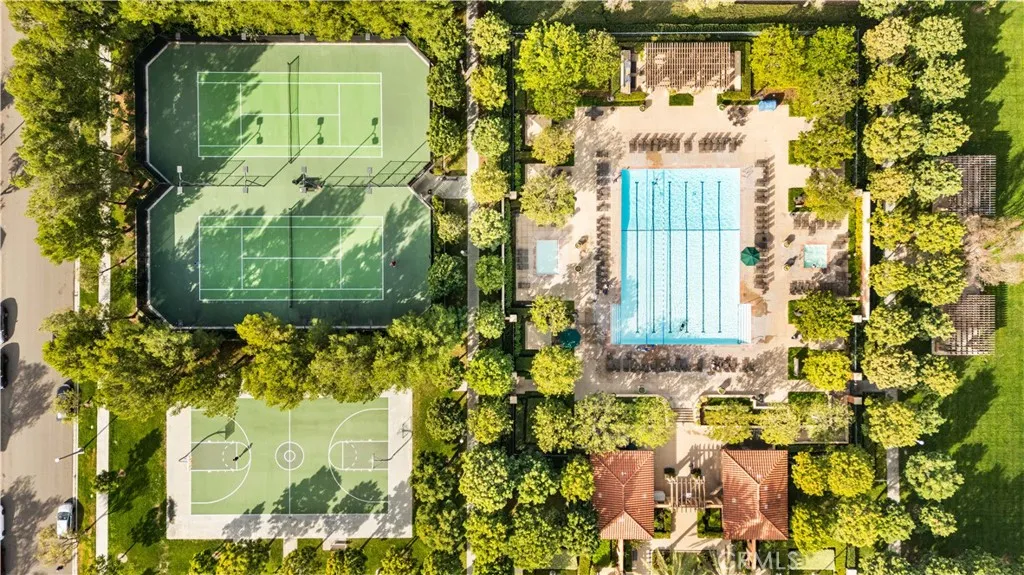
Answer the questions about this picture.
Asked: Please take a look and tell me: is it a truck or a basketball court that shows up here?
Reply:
basketball court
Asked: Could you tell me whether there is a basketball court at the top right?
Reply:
No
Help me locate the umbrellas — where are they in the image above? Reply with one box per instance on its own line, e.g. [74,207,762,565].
[739,247,758,266]
[559,327,580,348]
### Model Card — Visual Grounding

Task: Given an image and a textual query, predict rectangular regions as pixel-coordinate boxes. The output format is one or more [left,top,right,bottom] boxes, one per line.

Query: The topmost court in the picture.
[148,44,427,187]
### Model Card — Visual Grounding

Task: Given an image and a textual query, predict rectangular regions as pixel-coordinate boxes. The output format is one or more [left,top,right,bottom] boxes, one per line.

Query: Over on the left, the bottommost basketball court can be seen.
[166,390,412,540]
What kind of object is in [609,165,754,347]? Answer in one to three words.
swimming pool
